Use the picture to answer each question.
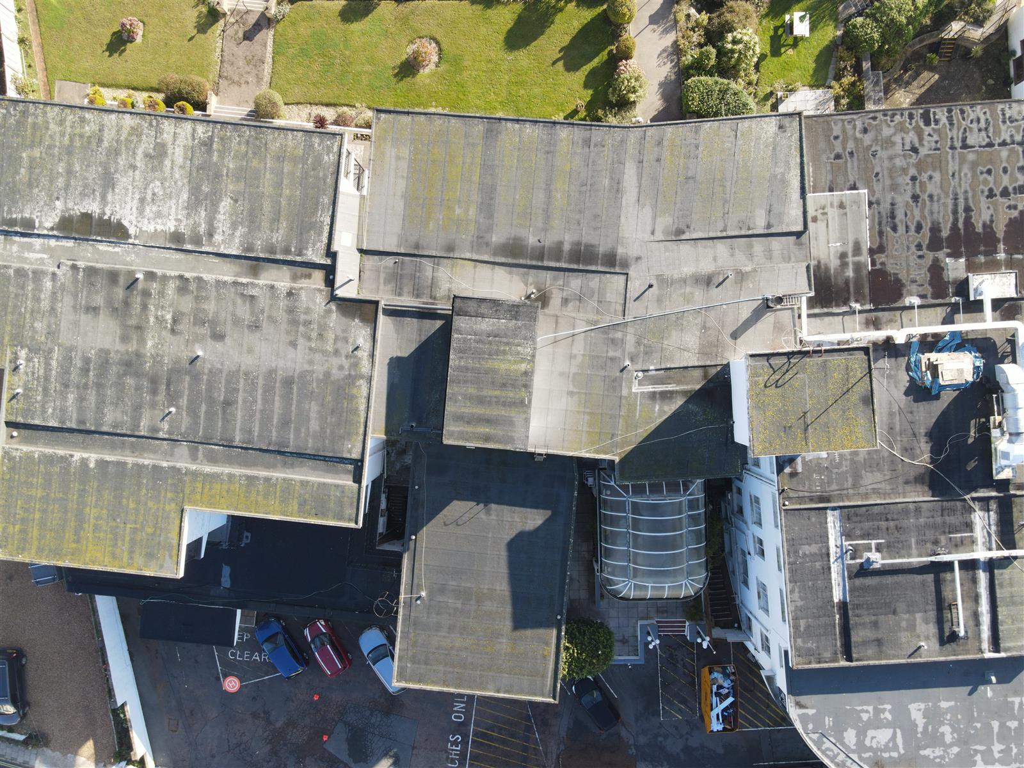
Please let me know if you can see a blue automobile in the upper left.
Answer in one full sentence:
No, I can find no blue automobile in the upper left.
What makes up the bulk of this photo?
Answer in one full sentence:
The largest share of the image is taken up by buildings.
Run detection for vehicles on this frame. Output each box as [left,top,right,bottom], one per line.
[253,618,309,686]
[570,675,627,745]
[0,650,26,731]
[357,626,412,702]
[302,620,352,686]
